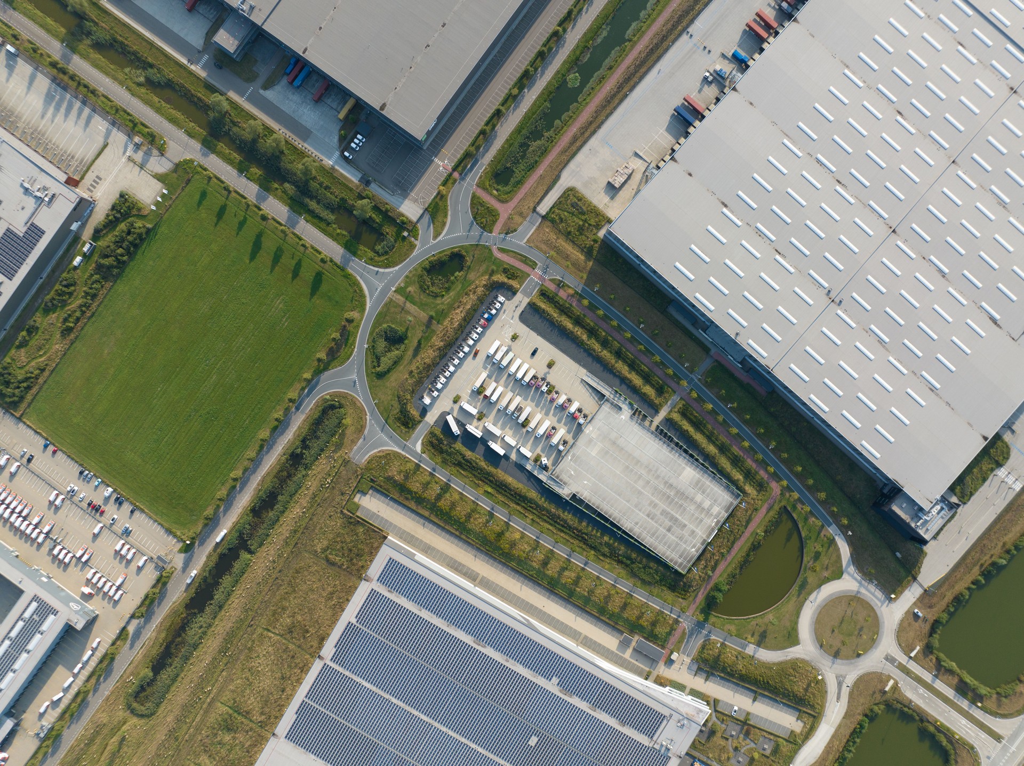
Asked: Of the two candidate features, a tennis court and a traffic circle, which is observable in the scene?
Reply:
traffic circle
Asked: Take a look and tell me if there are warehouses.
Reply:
Yes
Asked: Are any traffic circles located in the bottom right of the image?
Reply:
Yes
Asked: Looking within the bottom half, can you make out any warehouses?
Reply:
Yes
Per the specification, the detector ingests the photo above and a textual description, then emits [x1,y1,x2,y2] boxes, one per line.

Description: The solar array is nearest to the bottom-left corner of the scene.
[0,595,58,692]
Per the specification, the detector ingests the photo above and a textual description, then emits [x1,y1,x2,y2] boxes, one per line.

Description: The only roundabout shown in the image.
[799,580,895,673]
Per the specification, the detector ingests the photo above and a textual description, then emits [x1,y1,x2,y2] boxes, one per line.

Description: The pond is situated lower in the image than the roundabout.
[848,705,946,766]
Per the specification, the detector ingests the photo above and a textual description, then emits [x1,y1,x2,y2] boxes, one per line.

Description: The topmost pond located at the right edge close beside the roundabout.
[937,550,1024,690]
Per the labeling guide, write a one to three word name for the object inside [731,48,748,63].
vehicle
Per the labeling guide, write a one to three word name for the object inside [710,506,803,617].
pond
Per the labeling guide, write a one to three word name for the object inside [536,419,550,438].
vehicle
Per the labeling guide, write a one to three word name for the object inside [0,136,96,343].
building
